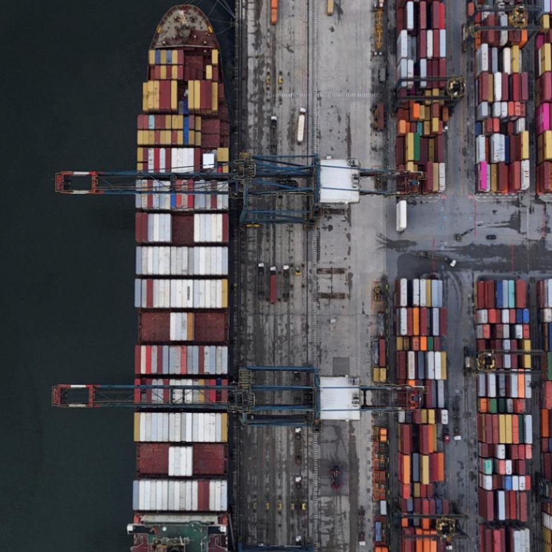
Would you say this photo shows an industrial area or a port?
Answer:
port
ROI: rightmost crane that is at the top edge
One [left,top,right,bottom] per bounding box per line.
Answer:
[466,6,541,50]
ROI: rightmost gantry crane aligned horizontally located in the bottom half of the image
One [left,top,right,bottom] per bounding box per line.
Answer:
[468,347,545,377]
